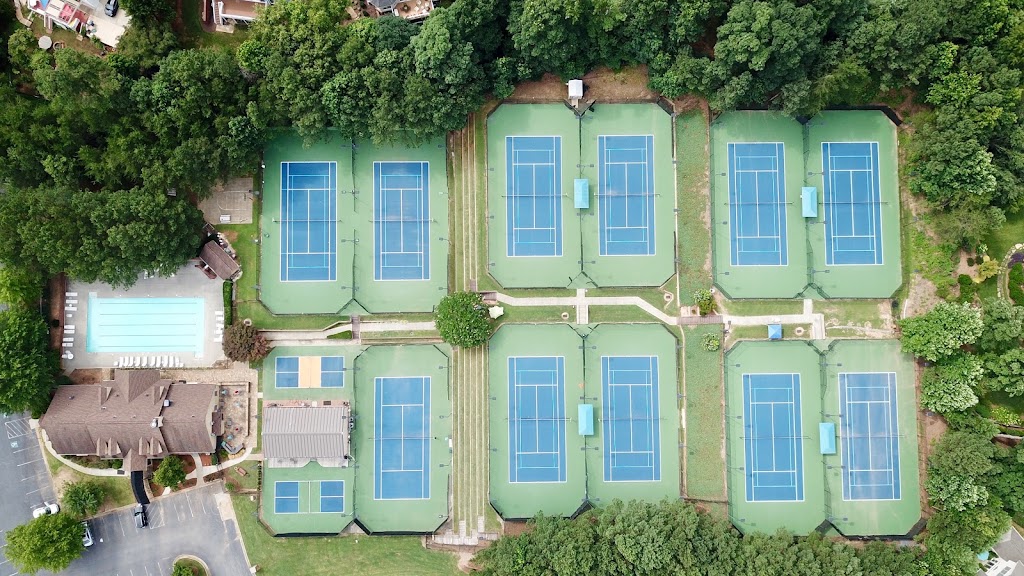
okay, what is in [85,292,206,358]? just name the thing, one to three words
swimming pool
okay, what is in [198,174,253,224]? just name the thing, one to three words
basketball court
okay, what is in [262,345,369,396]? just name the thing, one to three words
sports court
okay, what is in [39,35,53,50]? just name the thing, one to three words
umbrella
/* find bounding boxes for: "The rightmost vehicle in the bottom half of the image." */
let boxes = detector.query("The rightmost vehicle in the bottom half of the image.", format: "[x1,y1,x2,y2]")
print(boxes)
[132,503,150,529]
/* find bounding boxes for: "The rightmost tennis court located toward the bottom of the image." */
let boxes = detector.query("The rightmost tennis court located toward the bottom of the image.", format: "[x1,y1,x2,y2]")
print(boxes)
[822,340,921,533]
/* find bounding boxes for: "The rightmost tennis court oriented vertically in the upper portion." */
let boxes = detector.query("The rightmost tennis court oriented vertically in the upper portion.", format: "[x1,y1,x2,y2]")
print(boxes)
[805,109,903,297]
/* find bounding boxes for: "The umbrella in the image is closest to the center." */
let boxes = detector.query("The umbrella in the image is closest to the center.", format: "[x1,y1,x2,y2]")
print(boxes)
[490,306,503,319]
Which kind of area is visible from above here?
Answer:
sports ground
